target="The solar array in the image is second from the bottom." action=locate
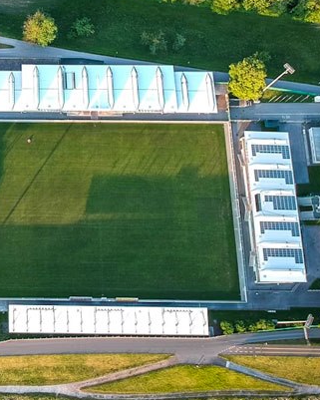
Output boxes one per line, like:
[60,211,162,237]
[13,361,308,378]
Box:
[261,222,305,236]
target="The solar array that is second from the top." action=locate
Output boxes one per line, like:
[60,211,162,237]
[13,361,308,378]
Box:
[255,170,298,184]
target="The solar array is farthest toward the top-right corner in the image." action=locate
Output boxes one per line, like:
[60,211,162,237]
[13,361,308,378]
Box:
[253,146,296,159]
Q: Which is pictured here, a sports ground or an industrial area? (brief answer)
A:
sports ground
